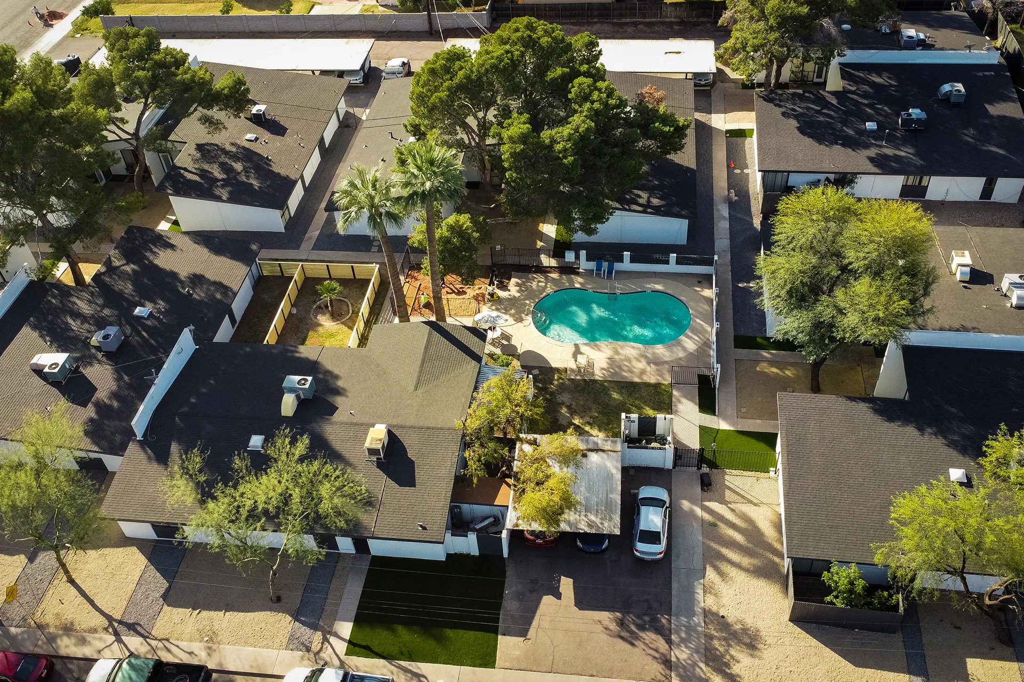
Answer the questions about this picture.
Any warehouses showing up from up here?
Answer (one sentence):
No, no warehouse can be seen from above.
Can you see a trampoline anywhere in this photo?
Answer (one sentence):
No, no trampoline is visible in the view.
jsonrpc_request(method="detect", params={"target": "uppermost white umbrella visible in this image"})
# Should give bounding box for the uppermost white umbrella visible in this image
[472,308,508,329]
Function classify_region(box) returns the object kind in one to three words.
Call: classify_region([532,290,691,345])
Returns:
swimming pool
